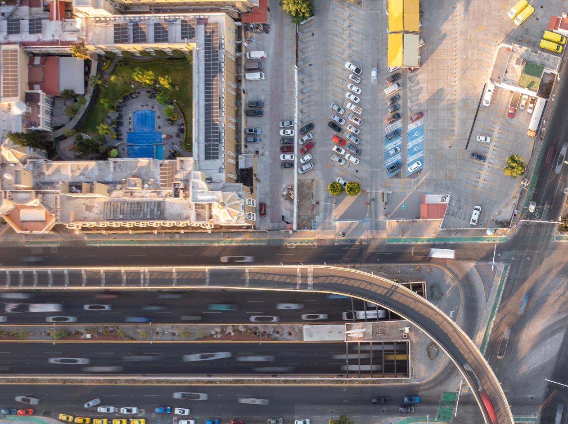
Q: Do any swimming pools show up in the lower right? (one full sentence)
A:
No, I see no swimming pool in the lower right.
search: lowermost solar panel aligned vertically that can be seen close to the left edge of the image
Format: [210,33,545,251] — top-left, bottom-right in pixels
[1,49,17,96]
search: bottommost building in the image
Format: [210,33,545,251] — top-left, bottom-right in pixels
[304,324,346,341]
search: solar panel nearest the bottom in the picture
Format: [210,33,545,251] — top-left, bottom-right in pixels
[159,162,174,187]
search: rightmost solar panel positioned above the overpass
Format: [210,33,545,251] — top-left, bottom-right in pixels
[204,23,219,160]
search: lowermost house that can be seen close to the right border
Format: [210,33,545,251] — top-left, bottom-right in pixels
[490,44,560,97]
